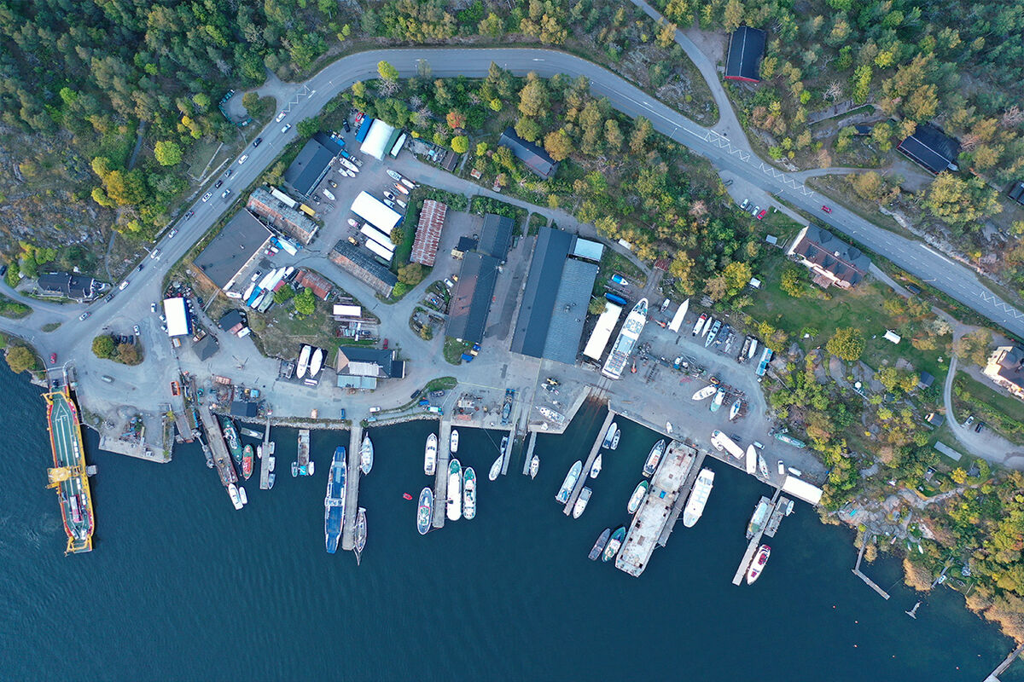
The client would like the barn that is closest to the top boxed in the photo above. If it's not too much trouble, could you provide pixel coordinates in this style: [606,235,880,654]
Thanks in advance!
[724,30,766,84]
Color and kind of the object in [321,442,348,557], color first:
blue ship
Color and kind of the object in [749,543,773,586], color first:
white boat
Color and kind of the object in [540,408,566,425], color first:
white boat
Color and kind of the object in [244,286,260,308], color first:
blue boat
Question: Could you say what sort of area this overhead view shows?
port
